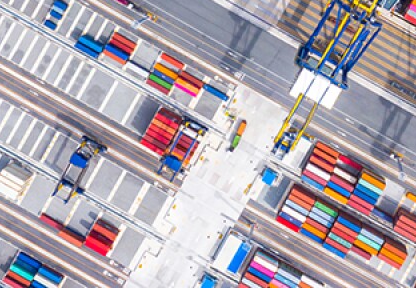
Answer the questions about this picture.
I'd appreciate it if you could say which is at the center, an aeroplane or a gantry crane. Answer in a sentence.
It is a gantry crane that can be seen at the center.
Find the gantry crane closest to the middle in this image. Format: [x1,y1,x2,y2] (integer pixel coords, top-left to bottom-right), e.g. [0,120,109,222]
[156,117,207,184]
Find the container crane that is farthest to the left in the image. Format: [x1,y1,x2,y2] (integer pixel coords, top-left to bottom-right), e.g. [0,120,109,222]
[49,137,107,204]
